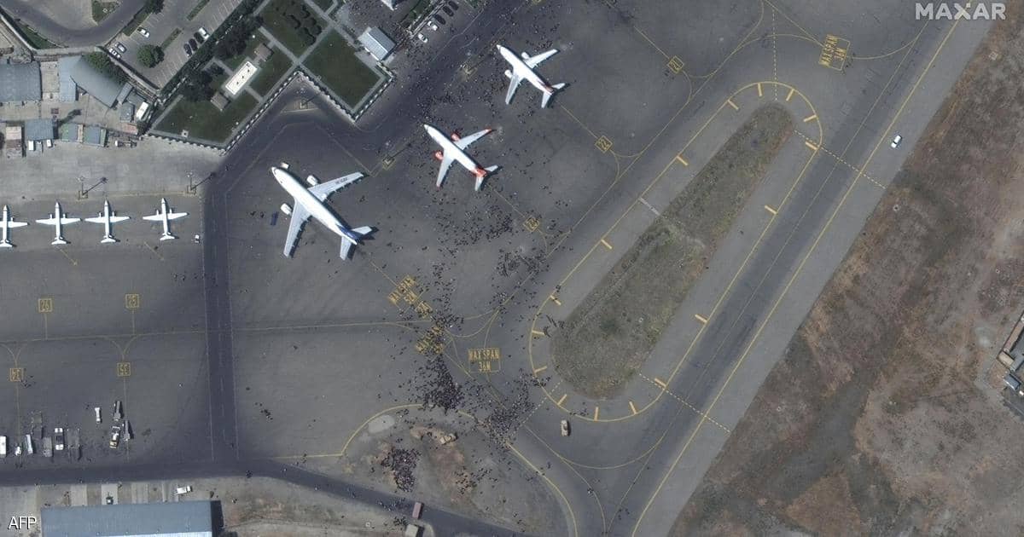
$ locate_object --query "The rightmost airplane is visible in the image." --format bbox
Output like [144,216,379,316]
[497,45,567,107]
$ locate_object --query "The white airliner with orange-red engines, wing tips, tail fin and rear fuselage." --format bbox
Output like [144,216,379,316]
[424,124,498,189]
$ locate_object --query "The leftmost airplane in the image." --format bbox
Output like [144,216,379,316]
[0,206,27,246]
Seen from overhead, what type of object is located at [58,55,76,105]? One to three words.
building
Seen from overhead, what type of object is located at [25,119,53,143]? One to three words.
building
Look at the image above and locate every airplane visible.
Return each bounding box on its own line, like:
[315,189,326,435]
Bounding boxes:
[0,206,27,246]
[272,167,372,258]
[86,201,129,241]
[144,199,187,239]
[497,45,567,107]
[36,203,80,243]
[424,124,498,189]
